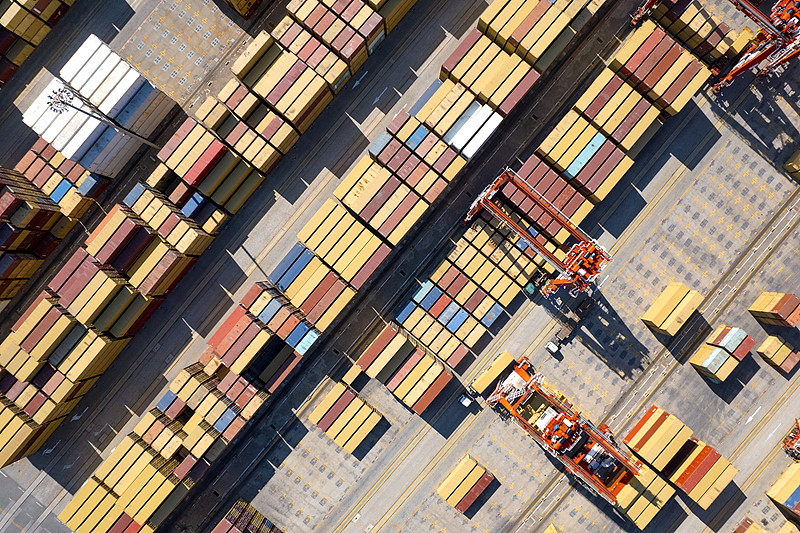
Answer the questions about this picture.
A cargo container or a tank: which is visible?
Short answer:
cargo container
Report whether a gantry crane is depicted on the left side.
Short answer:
No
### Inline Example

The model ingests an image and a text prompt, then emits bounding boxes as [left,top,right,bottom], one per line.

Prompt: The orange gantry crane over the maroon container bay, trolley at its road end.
[458,159,617,297]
